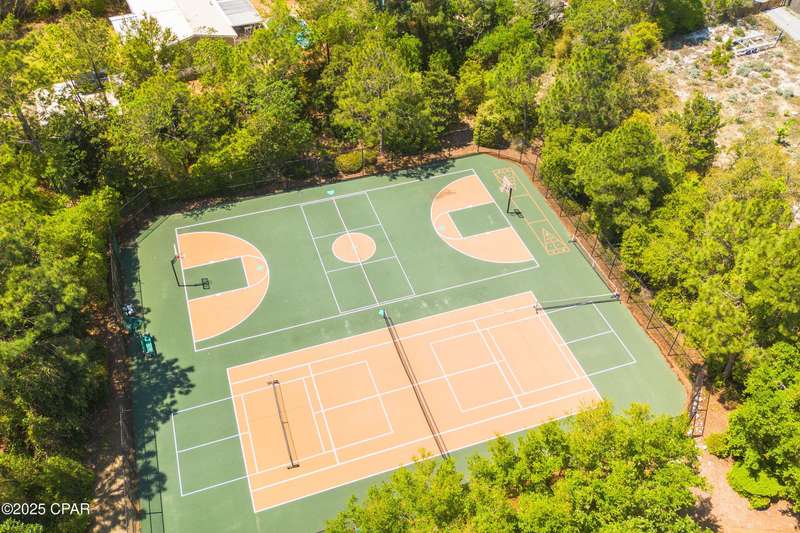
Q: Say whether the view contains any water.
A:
No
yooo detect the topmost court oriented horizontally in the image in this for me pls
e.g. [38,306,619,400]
[177,169,540,351]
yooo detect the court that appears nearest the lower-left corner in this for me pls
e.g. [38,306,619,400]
[172,360,394,496]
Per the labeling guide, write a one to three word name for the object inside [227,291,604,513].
tennis court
